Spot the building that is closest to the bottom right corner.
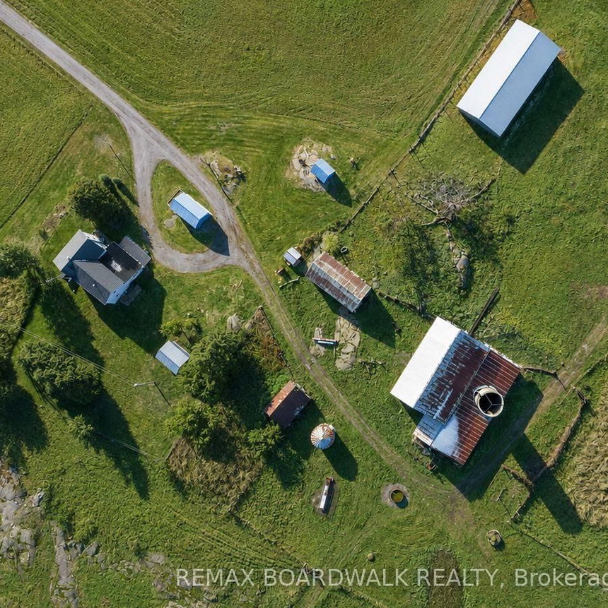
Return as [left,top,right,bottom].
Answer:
[392,317,521,465]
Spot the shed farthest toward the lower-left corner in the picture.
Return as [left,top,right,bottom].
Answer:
[156,338,186,374]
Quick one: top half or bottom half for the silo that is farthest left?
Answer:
bottom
